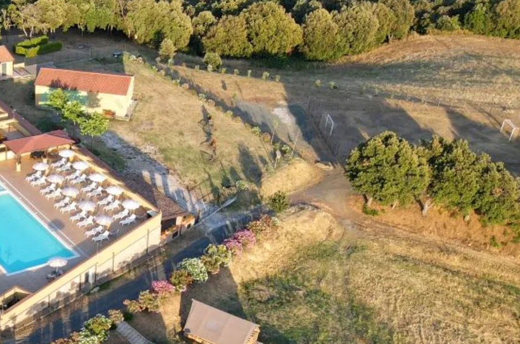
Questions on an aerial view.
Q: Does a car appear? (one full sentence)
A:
No, the photo shows no car.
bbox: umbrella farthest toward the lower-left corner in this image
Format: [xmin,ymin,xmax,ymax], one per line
[48,258,68,282]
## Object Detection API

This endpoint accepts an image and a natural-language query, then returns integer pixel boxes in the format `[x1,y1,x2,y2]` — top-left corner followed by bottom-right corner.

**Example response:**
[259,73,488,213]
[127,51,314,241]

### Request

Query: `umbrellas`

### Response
[87,175,105,185]
[72,163,89,177]
[122,202,139,225]
[47,176,63,185]
[94,217,113,232]
[32,165,48,174]
[77,202,95,225]
[59,151,75,160]
[48,258,68,282]
[106,188,123,202]
[61,189,78,204]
